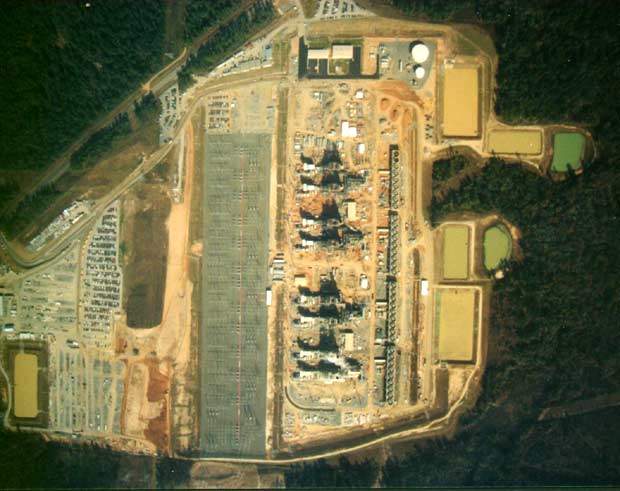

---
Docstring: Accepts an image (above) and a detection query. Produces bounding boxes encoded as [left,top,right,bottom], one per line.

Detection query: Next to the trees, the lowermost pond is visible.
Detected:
[7,346,45,425]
